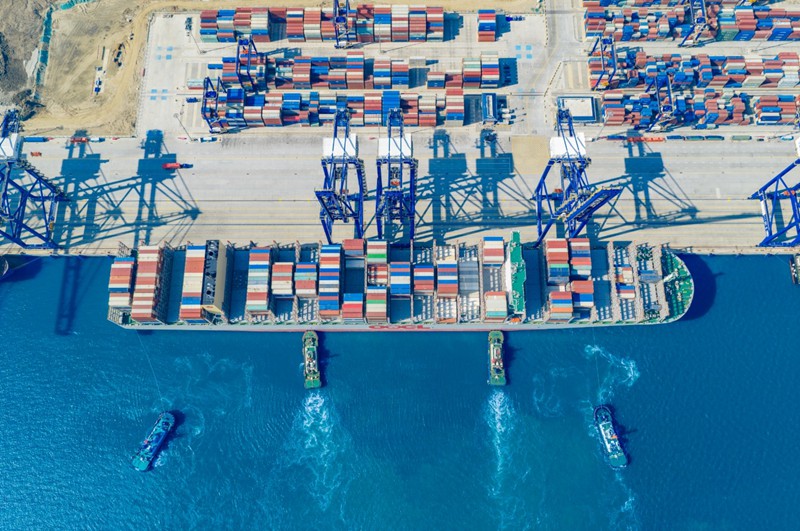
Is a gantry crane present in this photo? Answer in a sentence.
Yes, there's a gantry crane down there.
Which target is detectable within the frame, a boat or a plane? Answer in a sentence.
Of the two, only a boat appears.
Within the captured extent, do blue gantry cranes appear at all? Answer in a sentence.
Yes, the picture does show a blue gantry crane.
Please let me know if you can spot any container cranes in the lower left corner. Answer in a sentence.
No, I see no container crane in the lower left corner.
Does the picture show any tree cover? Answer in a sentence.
No, the scene doesn't show any tree cover.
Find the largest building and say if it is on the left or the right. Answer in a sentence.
It is on the right.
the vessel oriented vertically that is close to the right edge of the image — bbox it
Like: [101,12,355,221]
[778,254,800,302]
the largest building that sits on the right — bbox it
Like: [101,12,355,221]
[556,98,598,127]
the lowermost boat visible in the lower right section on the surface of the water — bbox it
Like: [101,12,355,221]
[594,405,625,469]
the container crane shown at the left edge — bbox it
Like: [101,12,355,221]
[0,108,70,247]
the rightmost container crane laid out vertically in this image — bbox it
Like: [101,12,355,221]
[747,108,800,247]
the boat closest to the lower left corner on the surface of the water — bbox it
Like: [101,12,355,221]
[134,412,176,472]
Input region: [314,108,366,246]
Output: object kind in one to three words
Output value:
container crane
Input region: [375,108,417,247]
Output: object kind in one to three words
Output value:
container crane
